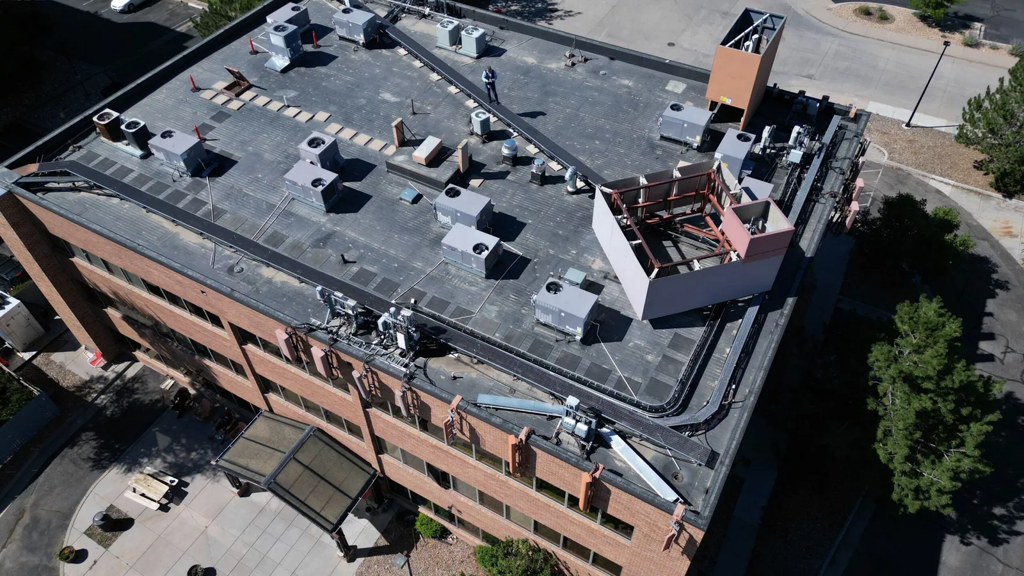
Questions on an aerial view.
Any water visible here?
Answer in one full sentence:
No, there is no water in the image.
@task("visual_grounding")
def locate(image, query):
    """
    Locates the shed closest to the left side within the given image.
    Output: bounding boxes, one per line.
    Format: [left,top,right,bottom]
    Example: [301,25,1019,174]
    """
[0,291,45,351]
